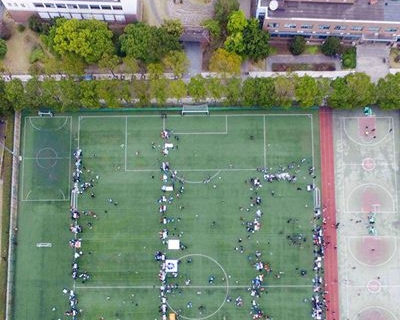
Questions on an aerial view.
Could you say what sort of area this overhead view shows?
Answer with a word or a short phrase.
sports ground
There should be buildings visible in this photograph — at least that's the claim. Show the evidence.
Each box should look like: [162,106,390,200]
[0,0,139,23]
[248,0,400,40]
